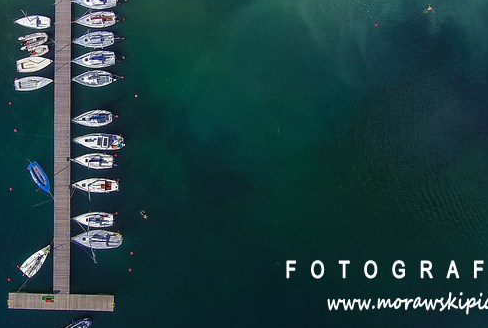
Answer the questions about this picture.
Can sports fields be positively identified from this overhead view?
No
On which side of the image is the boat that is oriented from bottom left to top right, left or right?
left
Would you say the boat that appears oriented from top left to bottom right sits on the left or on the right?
left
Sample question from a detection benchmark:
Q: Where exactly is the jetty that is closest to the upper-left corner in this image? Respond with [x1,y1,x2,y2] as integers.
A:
[52,0,72,293]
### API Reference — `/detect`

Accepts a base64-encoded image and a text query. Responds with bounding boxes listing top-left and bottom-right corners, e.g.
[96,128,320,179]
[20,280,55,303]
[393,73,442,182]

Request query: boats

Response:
[22,45,49,58]
[72,132,127,152]
[18,240,54,288]
[70,178,121,198]
[70,151,116,170]
[20,33,48,48]
[15,56,55,72]
[72,71,120,88]
[71,50,118,69]
[70,109,115,128]
[71,30,117,50]
[14,13,53,30]
[13,76,53,90]
[71,230,126,262]
[74,9,118,29]
[73,212,116,237]
[70,0,120,11]
[28,161,54,199]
